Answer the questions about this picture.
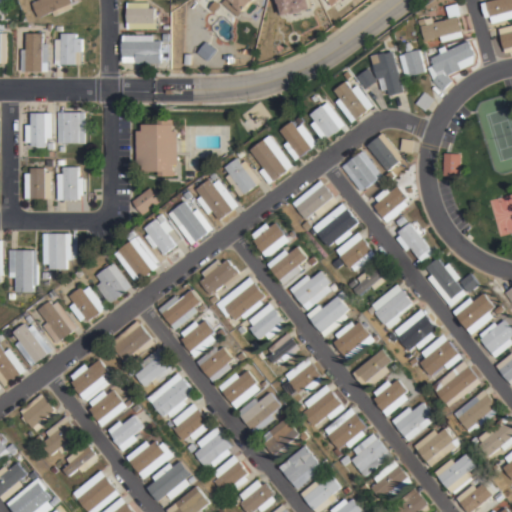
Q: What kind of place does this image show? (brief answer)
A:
residential area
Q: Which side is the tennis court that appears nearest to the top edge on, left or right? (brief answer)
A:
right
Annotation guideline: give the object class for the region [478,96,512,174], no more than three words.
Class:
tennis court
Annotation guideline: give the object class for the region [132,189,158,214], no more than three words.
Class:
shed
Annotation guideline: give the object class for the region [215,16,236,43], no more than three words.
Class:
swimming pool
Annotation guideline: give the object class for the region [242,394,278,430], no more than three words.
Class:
house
